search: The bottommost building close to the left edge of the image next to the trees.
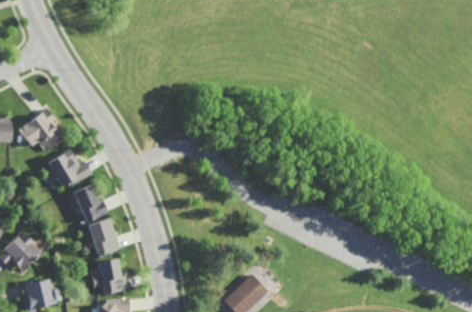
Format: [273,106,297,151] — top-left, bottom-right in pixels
[16,277,56,312]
